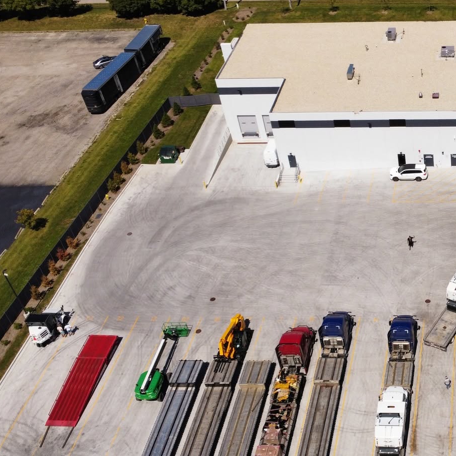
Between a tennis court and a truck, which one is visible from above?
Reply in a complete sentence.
This aerial view contains a truck.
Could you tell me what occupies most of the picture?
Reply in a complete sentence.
For the most part, this view shows paved ground.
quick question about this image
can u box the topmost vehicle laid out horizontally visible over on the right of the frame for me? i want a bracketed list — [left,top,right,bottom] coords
[389,164,428,182]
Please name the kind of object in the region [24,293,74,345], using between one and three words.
vehicle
